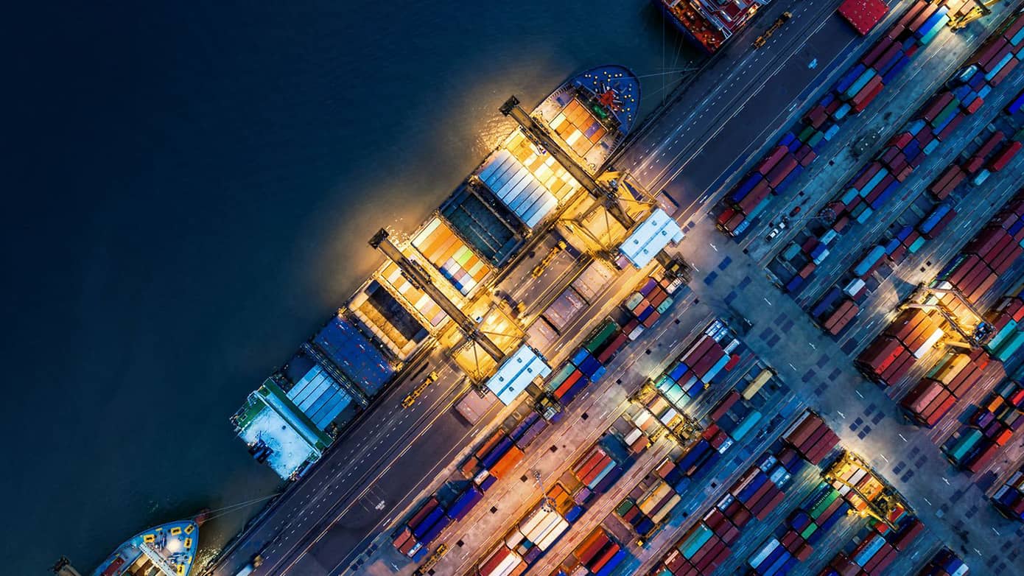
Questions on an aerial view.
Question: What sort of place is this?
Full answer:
The picture captures a port.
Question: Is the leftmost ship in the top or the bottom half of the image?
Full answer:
You can find the leftmost ship in the bottom half.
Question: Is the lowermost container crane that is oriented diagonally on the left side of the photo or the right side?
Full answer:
The lowermost container crane that is oriented diagonally appears in the right half of the scene.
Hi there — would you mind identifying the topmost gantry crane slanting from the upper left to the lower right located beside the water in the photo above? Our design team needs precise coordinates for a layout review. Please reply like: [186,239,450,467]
[499,89,686,274]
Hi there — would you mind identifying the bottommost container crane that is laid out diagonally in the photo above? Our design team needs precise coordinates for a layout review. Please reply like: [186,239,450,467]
[815,446,912,529]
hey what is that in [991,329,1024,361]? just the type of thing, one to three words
shipping container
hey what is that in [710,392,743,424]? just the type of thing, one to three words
shipping container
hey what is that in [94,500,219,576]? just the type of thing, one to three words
ship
